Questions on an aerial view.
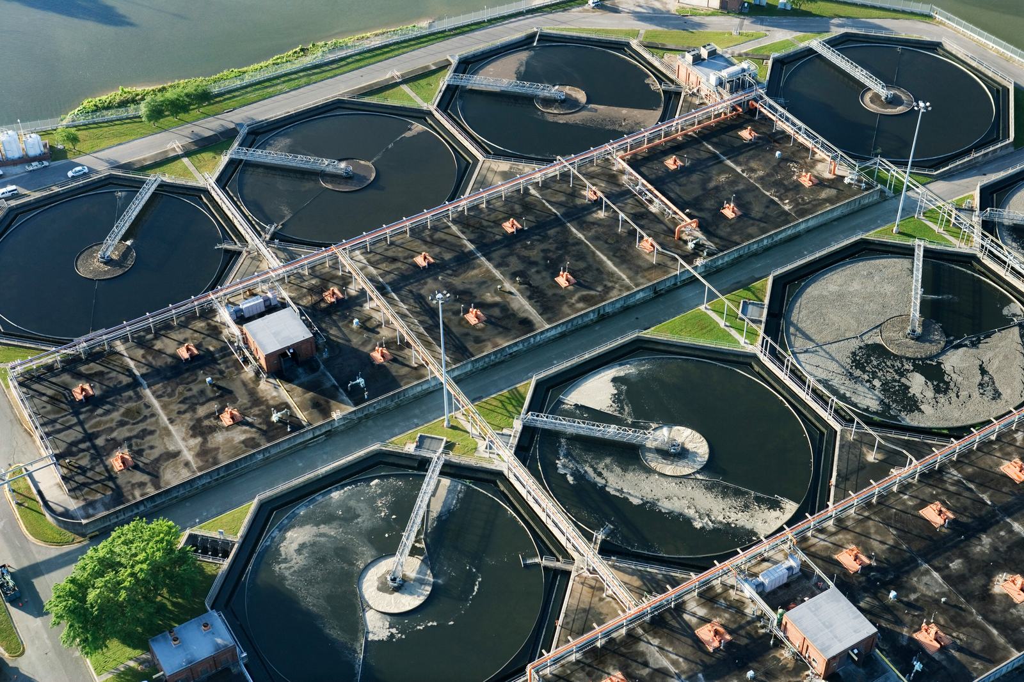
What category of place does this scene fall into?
industrial area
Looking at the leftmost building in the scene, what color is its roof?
blue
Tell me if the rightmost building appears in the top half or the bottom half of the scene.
bottom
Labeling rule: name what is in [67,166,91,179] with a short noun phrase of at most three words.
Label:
vehicle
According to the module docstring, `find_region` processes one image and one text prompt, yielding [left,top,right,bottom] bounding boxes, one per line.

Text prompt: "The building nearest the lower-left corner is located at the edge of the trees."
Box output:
[147,611,235,682]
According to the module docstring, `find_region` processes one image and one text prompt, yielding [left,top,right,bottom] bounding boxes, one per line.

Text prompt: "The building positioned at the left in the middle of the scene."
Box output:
[241,305,314,373]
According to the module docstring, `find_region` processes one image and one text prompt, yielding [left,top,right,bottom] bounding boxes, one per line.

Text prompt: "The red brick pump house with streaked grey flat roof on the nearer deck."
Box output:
[776,584,876,678]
